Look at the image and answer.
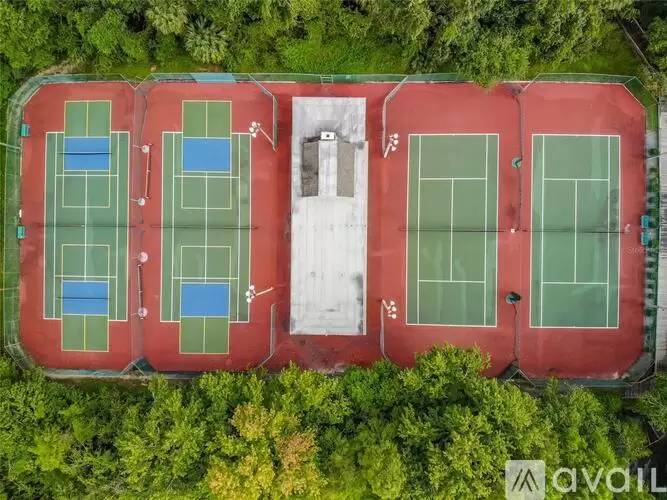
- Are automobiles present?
No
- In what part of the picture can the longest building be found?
center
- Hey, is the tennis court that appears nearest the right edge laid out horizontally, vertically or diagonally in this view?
vertically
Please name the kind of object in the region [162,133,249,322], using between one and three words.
tennis court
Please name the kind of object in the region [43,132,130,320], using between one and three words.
tennis court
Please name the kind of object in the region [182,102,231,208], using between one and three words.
sports court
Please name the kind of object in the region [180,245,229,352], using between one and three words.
sports court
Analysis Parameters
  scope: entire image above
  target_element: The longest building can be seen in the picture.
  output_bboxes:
[288,131,367,335]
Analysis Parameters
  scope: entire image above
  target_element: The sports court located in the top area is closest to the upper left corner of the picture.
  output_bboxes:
[63,100,111,207]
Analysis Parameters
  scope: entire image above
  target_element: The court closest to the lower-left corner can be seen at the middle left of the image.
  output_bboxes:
[62,243,109,350]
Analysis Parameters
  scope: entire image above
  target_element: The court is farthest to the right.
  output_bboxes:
[530,135,621,328]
